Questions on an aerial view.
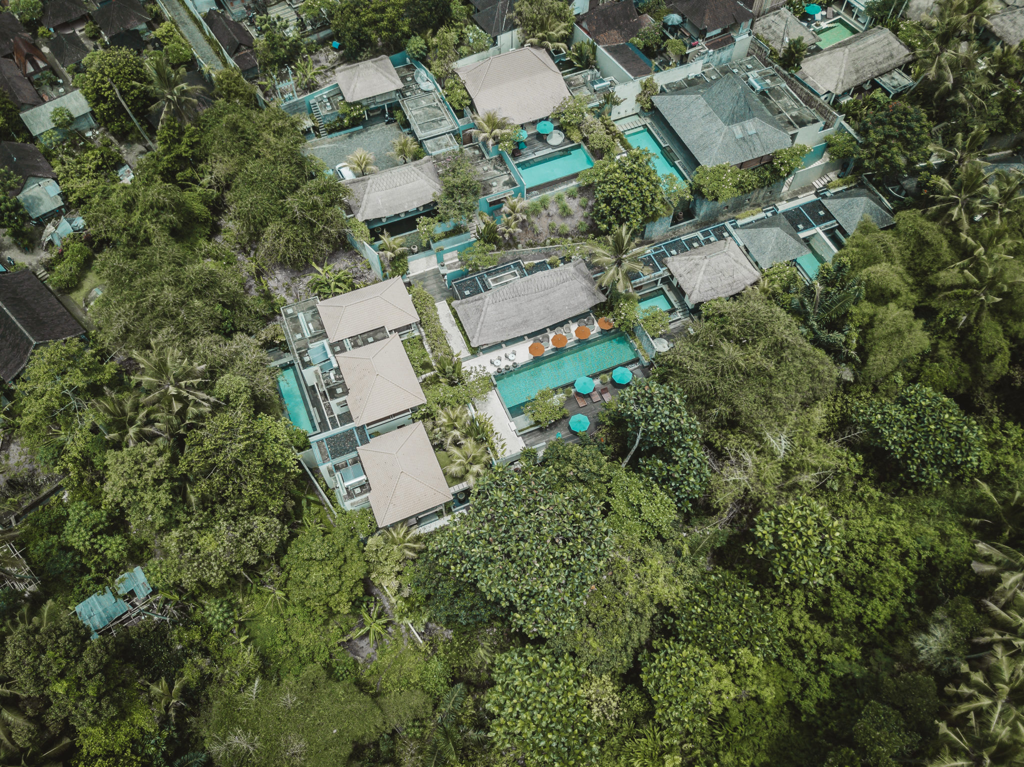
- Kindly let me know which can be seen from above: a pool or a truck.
pool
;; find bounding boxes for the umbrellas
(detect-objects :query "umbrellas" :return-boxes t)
[612,368,631,387]
[598,318,613,335]
[663,15,682,34]
[551,336,567,352]
[574,378,594,396]
[537,123,551,140]
[529,344,544,360]
[575,328,590,344]
[569,415,589,432]
[804,6,821,23]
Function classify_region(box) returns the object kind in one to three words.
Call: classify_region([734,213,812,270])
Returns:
building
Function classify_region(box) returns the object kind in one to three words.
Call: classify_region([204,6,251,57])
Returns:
house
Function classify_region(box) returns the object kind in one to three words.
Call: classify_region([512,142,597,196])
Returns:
swimming pool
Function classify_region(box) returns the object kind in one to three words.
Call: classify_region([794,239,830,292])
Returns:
swimming pool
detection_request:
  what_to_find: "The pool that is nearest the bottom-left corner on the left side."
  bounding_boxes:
[274,362,318,442]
